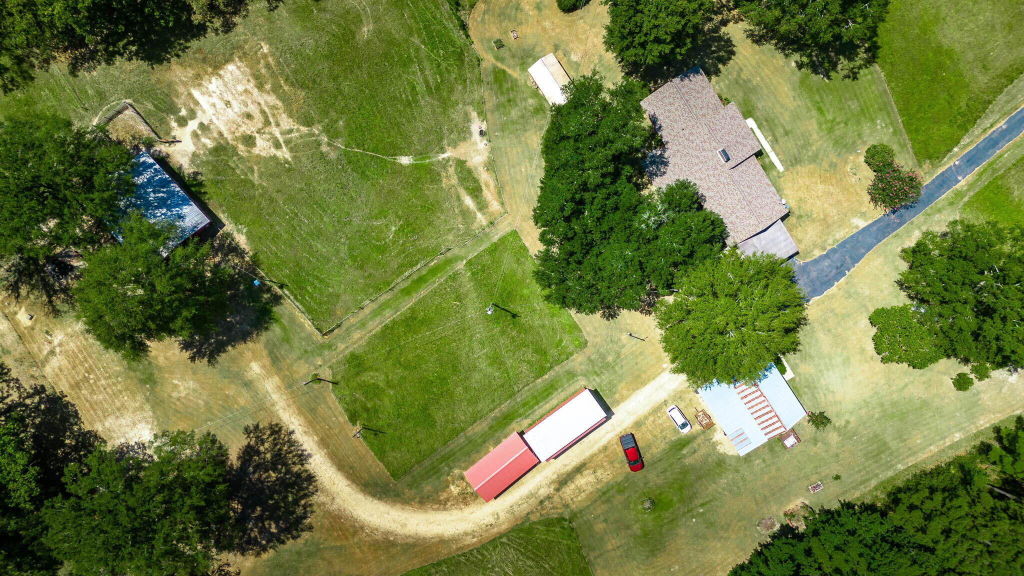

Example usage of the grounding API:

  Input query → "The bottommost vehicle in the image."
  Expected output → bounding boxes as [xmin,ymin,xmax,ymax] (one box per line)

[620,434,643,473]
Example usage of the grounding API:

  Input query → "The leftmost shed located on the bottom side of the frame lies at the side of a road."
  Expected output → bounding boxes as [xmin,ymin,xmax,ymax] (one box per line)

[464,432,539,502]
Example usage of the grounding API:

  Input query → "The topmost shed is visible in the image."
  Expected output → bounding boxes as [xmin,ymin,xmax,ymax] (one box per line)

[528,54,571,107]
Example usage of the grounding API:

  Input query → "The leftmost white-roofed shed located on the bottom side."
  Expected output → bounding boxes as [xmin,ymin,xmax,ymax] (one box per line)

[522,386,608,462]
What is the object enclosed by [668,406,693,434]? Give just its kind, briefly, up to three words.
car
